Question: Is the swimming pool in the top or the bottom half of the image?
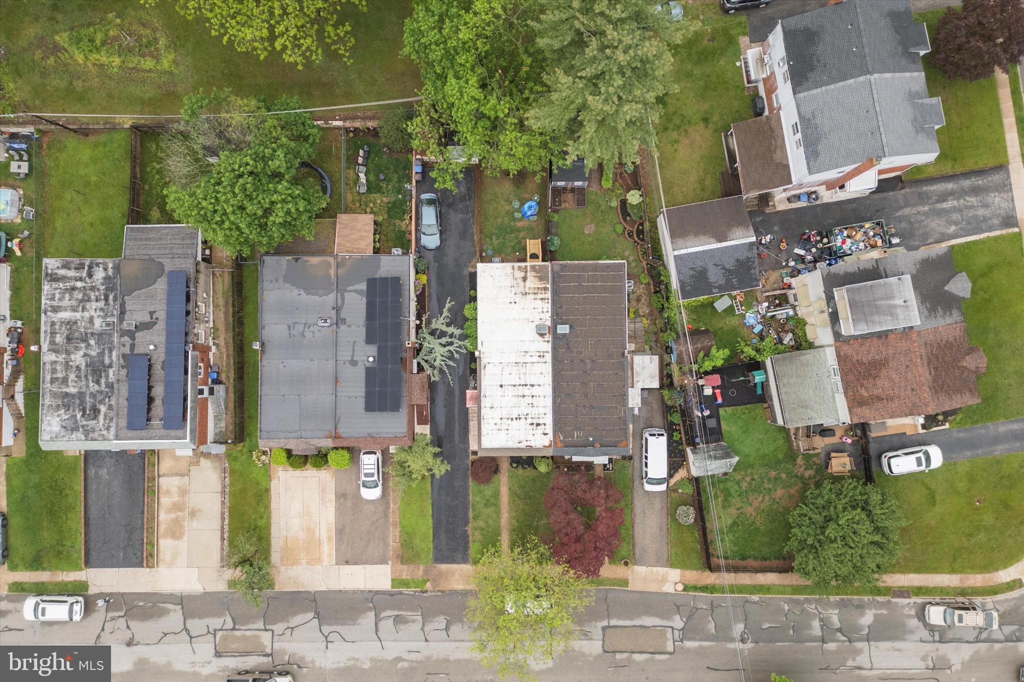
top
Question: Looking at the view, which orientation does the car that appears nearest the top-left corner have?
up and down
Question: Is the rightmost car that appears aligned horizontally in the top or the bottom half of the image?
bottom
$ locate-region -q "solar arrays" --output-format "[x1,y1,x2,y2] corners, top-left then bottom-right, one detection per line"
[127,356,149,429]
[366,277,401,412]
[162,271,187,429]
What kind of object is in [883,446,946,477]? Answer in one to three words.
car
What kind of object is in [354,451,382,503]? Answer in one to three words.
car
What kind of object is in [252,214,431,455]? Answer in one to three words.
house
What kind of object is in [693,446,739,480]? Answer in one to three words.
shed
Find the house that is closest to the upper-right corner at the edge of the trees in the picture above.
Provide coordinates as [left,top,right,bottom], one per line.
[723,0,946,210]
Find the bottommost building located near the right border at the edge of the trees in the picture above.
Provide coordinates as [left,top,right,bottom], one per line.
[763,247,987,447]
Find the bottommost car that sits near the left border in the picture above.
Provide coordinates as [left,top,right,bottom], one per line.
[24,596,83,627]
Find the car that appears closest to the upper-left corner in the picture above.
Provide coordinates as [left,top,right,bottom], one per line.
[414,192,441,248]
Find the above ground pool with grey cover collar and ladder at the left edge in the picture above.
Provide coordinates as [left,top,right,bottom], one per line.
[0,184,27,219]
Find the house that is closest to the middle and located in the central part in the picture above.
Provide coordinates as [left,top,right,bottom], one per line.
[466,260,658,465]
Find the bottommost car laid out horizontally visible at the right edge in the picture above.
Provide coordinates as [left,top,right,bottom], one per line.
[930,604,1008,634]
